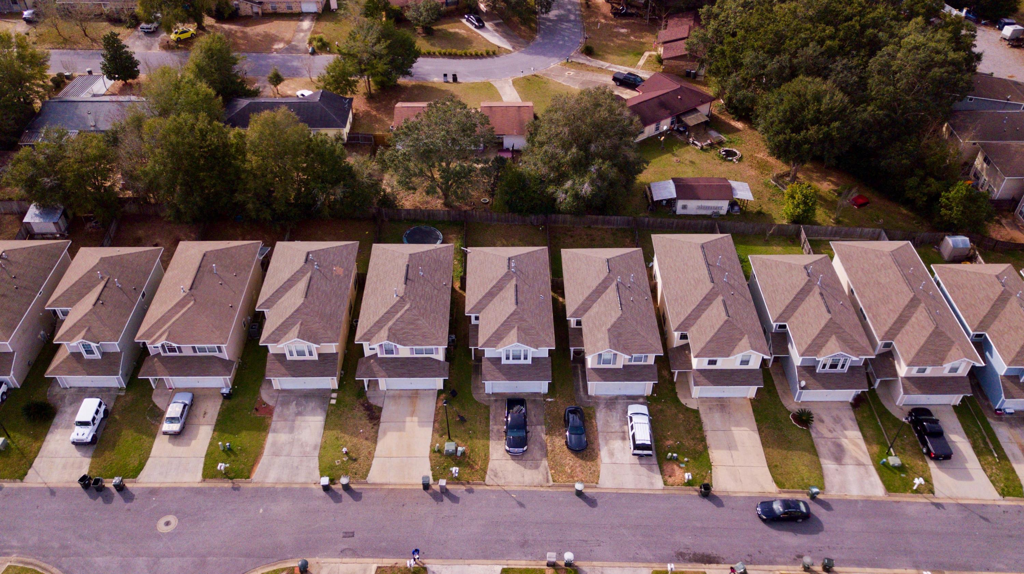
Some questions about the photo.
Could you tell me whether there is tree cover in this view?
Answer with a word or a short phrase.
Yes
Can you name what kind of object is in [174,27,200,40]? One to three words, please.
vehicle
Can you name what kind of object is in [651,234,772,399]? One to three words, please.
house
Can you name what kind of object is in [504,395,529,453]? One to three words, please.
truck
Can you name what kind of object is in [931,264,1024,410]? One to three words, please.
house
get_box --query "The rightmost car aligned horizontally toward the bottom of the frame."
[754,494,815,522]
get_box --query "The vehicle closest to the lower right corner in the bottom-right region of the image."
[910,402,960,459]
